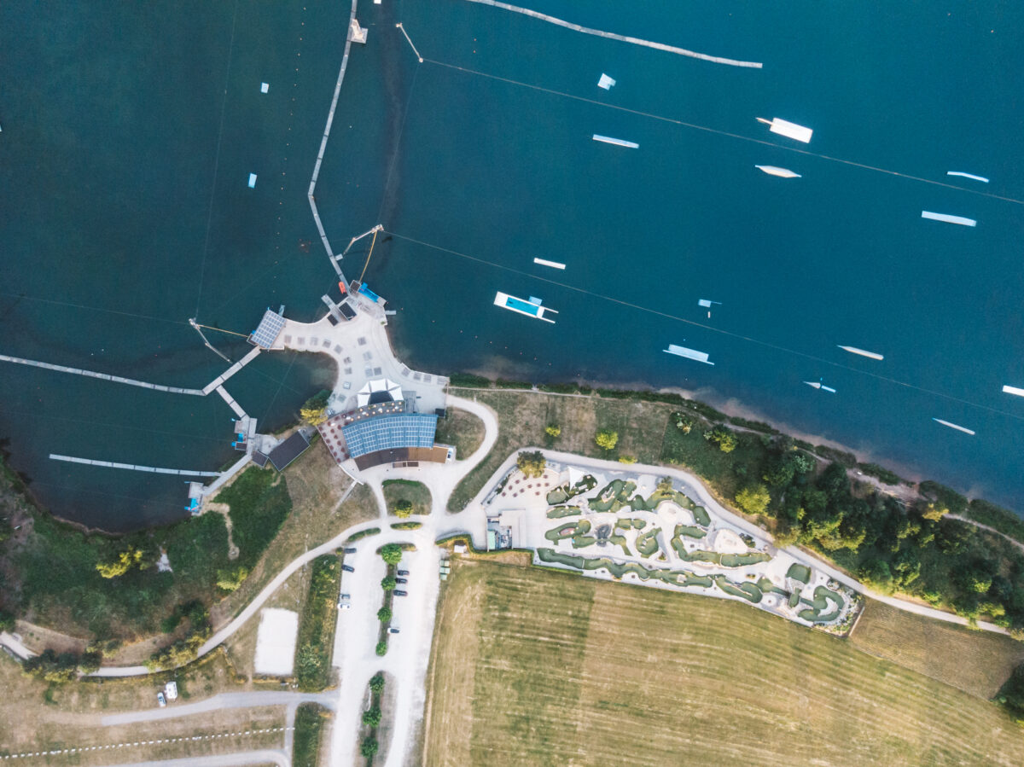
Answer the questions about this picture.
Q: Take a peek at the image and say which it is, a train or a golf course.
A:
golf course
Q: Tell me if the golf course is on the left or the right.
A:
right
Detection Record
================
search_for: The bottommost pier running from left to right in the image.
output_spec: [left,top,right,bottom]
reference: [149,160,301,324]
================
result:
[50,454,220,477]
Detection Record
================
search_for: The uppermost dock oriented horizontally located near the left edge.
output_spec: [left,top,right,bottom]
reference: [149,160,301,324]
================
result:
[0,354,205,396]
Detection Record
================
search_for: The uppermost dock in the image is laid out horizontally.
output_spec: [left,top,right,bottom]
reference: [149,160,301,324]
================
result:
[457,0,761,68]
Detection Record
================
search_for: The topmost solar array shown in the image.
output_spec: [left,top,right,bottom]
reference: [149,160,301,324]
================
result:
[251,311,285,348]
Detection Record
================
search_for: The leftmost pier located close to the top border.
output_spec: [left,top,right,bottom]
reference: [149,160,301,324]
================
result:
[309,0,357,295]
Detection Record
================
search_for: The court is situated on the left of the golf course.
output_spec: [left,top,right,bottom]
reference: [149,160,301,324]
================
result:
[255,609,298,675]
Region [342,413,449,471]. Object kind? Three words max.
building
